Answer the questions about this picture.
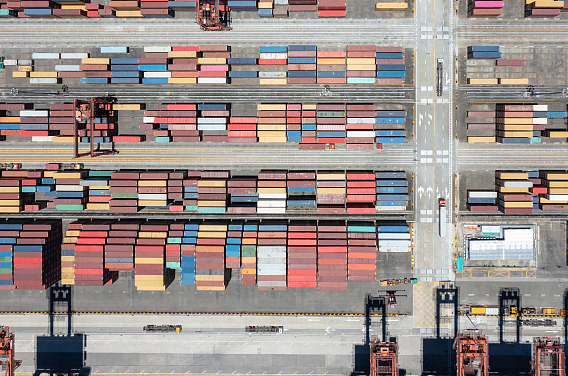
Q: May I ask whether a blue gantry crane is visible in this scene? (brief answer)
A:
No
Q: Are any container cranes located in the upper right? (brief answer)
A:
No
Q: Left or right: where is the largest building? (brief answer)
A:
right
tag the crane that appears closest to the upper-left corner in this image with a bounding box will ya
[74,95,120,161]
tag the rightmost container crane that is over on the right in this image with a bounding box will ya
[531,337,568,376]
